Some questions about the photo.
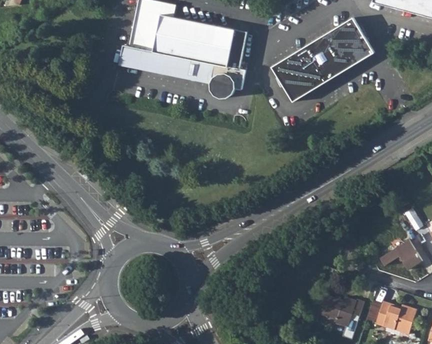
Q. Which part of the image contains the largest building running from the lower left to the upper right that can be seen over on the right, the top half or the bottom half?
top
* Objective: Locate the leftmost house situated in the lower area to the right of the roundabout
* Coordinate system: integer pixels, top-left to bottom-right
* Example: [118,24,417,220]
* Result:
[322,294,365,328]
